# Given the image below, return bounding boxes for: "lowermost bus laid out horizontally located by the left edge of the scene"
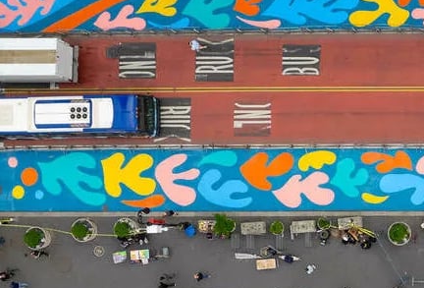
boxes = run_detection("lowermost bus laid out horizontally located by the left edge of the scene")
[0,93,160,137]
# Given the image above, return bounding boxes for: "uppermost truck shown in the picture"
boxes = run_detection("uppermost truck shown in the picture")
[0,40,86,84]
